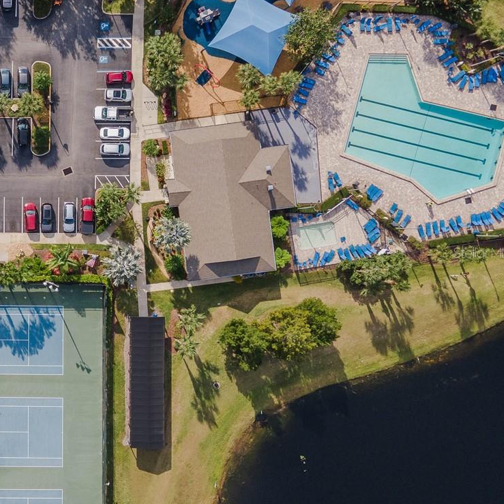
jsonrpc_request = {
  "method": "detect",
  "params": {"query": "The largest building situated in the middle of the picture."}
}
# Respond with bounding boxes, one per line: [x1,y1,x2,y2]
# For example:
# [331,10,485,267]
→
[166,120,296,281]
